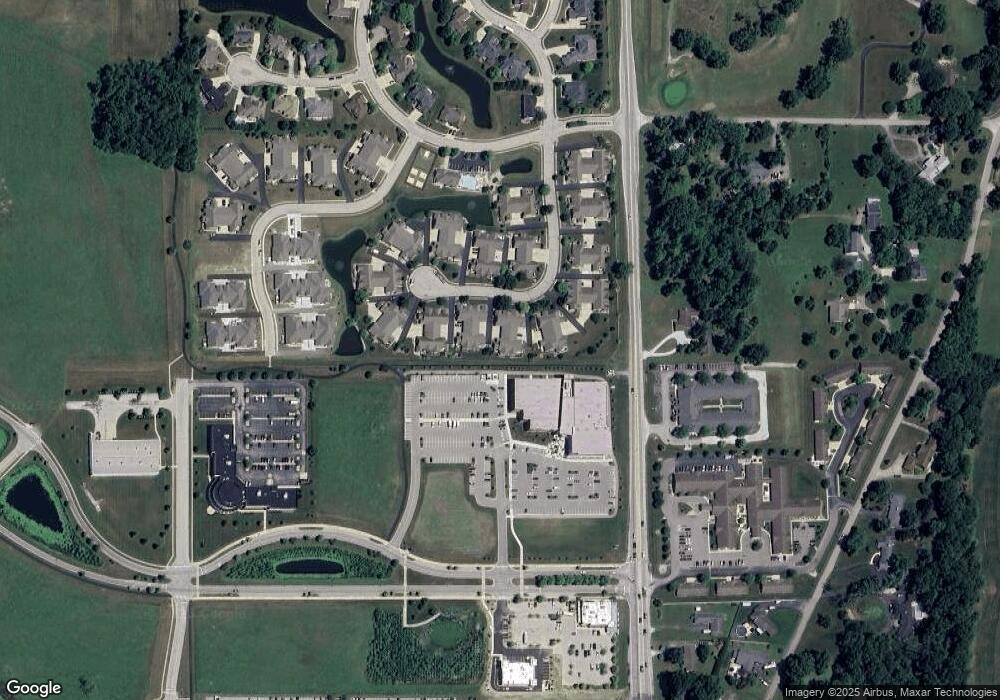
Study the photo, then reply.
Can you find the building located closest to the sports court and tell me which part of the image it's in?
top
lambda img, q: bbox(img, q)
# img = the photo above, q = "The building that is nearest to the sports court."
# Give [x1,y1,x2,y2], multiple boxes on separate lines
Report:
[433,167,461,187]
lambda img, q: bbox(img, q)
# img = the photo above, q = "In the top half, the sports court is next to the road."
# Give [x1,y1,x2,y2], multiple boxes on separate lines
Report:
[404,146,438,190]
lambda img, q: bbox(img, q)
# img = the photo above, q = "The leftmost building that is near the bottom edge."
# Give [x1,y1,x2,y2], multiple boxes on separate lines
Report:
[502,659,538,686]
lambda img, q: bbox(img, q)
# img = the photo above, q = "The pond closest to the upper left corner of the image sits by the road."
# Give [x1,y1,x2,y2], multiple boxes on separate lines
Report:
[194,0,346,62]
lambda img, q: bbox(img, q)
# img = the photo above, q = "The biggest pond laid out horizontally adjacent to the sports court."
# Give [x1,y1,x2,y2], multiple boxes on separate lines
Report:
[396,194,494,226]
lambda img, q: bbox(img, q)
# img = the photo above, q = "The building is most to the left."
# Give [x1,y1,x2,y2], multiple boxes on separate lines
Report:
[91,432,160,475]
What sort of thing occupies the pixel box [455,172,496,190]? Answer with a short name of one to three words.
swimming pool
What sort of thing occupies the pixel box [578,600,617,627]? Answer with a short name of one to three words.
building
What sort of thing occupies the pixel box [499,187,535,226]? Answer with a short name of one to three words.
house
